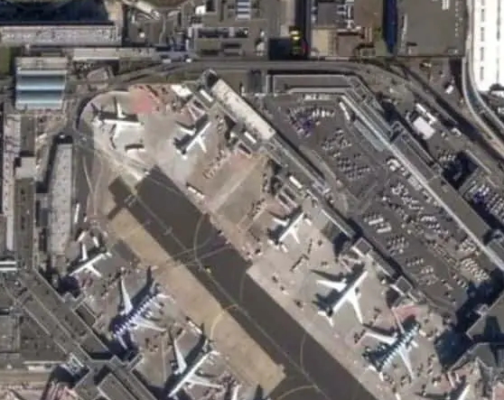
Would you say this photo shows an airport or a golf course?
airport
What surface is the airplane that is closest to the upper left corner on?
apron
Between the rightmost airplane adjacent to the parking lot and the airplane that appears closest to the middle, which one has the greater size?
the rightmost airplane adjacent to the parking lot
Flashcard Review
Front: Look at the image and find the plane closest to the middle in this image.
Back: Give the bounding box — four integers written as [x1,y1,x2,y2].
[271,213,304,247]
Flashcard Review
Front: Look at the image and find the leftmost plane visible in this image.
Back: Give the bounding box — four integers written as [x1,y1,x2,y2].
[68,248,110,278]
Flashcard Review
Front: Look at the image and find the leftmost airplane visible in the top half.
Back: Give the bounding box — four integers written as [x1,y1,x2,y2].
[93,101,144,144]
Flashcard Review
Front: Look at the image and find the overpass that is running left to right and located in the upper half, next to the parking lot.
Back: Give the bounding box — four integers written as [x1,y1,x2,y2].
[66,57,374,101]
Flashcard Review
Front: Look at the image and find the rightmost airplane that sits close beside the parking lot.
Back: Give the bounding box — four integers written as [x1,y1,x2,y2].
[366,325,418,379]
